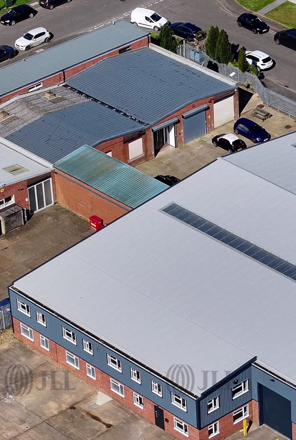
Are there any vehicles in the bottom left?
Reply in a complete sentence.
No, no vehicle can be made out in the bottom left.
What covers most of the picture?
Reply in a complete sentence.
Most of the picture is covered by buildings.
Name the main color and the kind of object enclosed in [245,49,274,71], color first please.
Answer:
white car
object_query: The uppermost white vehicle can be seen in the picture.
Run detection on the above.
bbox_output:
[130,7,168,29]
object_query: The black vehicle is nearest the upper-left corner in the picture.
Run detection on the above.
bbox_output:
[1,3,34,24]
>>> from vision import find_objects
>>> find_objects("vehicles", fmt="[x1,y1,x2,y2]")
[276,27,296,52]
[15,27,51,50]
[130,7,168,29]
[0,46,16,61]
[232,117,268,143]
[38,0,71,9]
[245,49,274,71]
[211,133,244,152]
[1,3,34,24]
[171,22,202,41]
[236,12,268,33]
